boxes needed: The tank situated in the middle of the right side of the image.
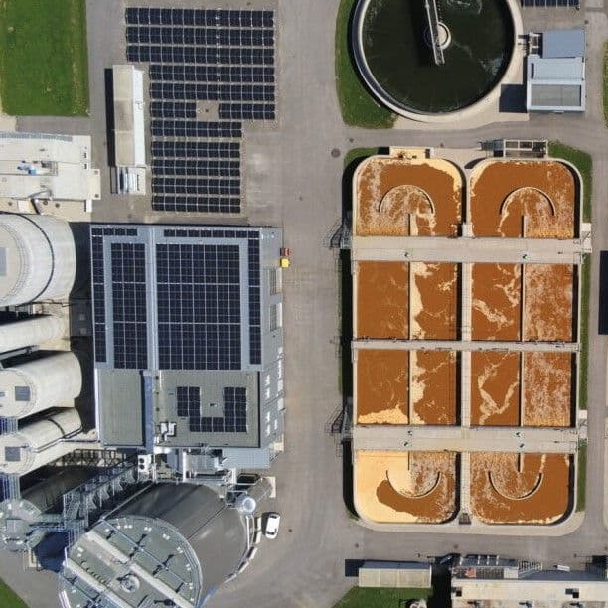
[351,140,591,525]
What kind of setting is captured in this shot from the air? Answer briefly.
industrial area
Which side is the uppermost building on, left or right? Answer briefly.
right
